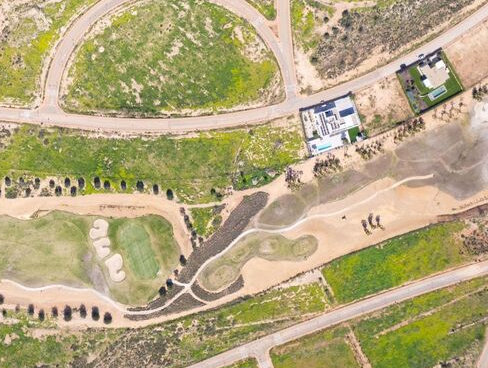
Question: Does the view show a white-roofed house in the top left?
No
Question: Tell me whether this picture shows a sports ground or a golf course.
golf course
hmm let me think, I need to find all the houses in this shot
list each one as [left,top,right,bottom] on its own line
[314,103,361,137]
[415,55,450,88]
